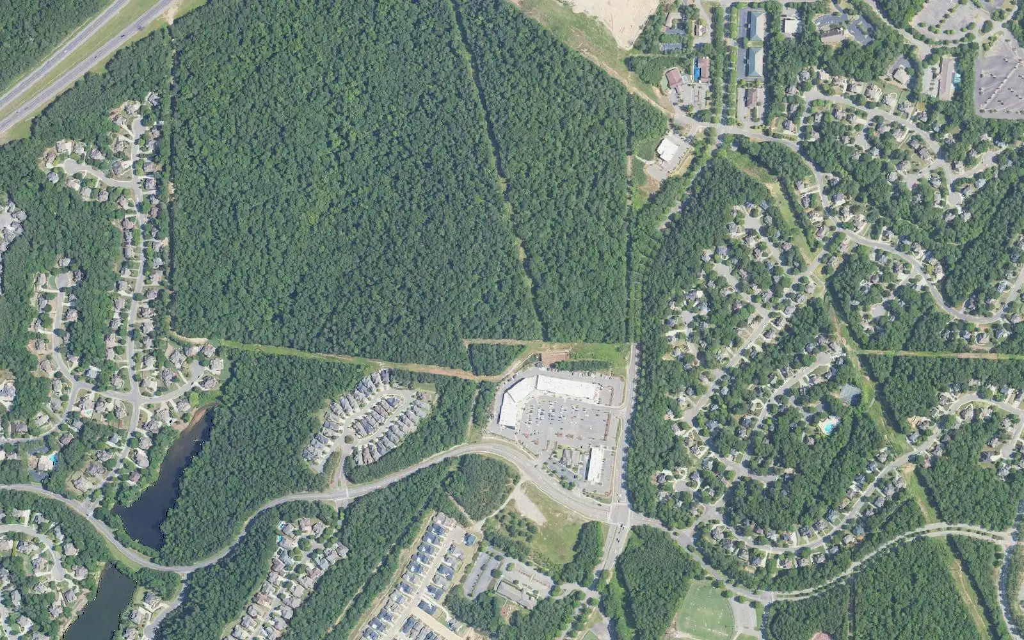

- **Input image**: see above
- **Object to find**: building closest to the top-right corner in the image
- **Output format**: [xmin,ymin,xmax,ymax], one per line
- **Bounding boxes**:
[939,57,956,100]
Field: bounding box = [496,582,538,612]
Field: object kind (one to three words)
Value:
building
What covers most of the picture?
trees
